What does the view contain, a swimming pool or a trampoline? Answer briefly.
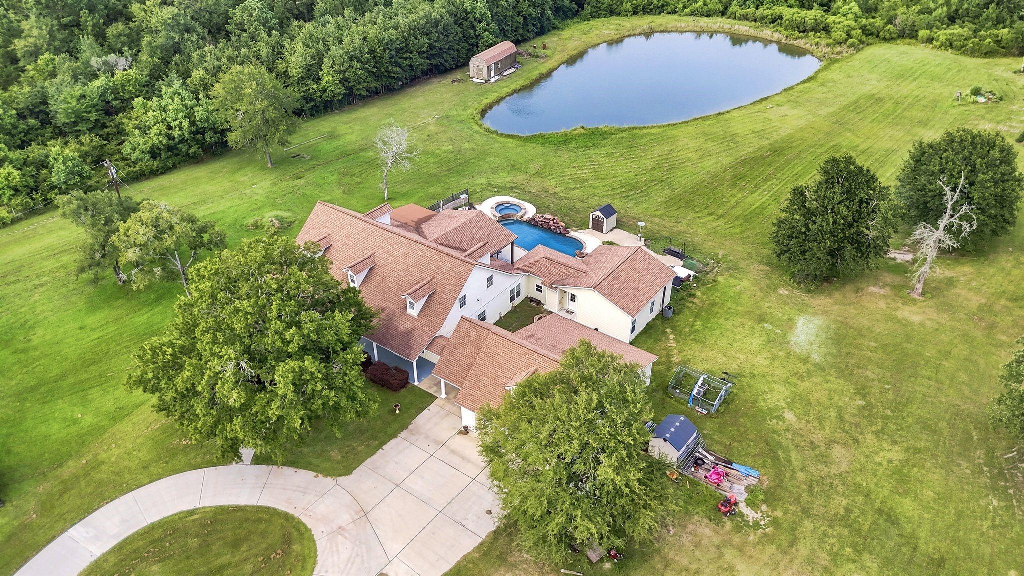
swimming pool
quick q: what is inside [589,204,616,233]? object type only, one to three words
shed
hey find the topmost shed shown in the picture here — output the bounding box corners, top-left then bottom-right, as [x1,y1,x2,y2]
[468,44,524,81]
